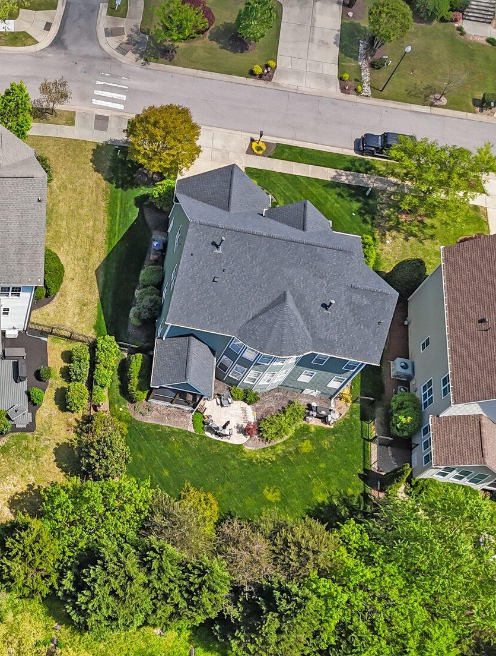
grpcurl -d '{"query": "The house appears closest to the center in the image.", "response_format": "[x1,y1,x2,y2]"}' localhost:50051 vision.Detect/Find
[146,162,396,410]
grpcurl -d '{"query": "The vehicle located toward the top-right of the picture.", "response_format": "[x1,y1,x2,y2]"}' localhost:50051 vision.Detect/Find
[357,132,419,164]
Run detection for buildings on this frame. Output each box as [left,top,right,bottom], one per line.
[407,234,496,496]
[146,162,396,410]
[0,122,45,355]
